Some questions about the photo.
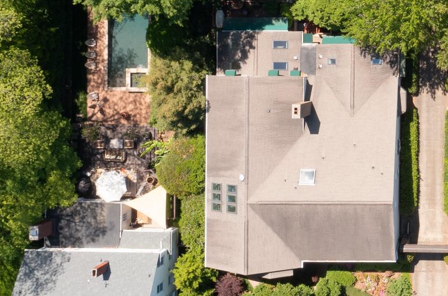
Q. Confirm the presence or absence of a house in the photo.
Yes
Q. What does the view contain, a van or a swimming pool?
swimming pool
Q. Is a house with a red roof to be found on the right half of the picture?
No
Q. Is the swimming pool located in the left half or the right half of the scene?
left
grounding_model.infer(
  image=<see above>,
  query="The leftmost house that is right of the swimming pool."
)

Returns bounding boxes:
[205,18,406,278]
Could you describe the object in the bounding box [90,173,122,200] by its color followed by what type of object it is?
white umbrella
